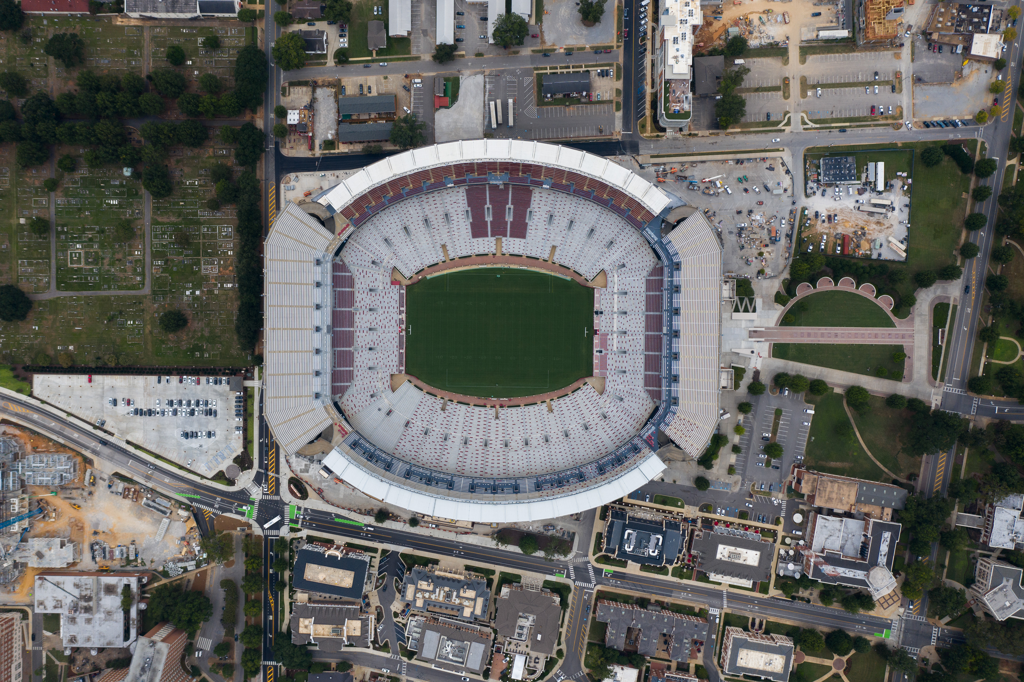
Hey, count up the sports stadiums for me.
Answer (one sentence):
The picture shows just 1 sports stadium.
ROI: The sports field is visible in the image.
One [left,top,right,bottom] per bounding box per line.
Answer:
[405,266,594,398]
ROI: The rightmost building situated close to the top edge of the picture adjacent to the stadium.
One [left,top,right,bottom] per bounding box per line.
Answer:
[658,0,701,128]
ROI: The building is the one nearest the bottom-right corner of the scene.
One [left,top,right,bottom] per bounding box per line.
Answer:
[971,559,1024,622]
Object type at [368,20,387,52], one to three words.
house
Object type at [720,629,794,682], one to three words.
building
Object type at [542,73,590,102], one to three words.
building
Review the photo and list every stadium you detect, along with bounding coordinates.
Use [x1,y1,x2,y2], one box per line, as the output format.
[258,138,725,524]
